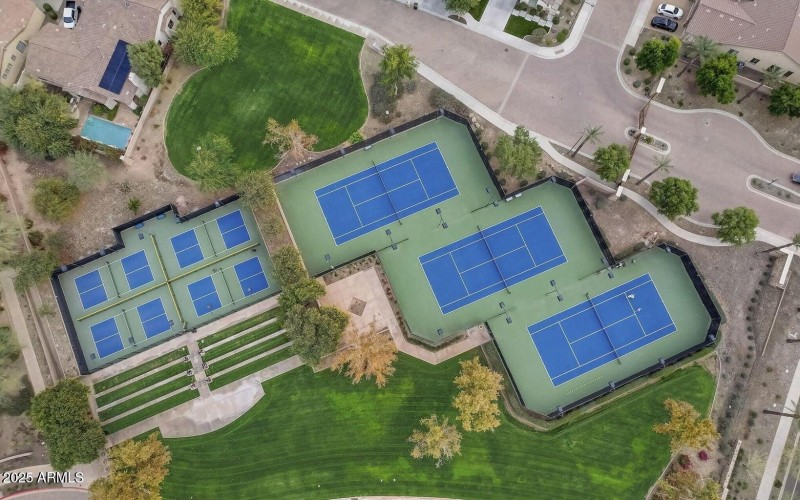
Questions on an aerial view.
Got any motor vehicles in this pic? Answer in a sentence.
Yes, a motor vehicle appears in the view.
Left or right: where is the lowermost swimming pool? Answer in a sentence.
You can find the lowermost swimming pool on the left side of the picture.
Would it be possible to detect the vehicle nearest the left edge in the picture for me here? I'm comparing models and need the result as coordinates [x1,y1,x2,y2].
[62,1,80,29]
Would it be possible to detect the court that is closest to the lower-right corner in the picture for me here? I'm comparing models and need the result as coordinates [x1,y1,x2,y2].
[486,247,710,415]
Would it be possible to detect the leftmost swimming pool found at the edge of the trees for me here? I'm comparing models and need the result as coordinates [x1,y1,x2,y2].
[80,115,132,149]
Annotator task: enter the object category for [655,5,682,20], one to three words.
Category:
car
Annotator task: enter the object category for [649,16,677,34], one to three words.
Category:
car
